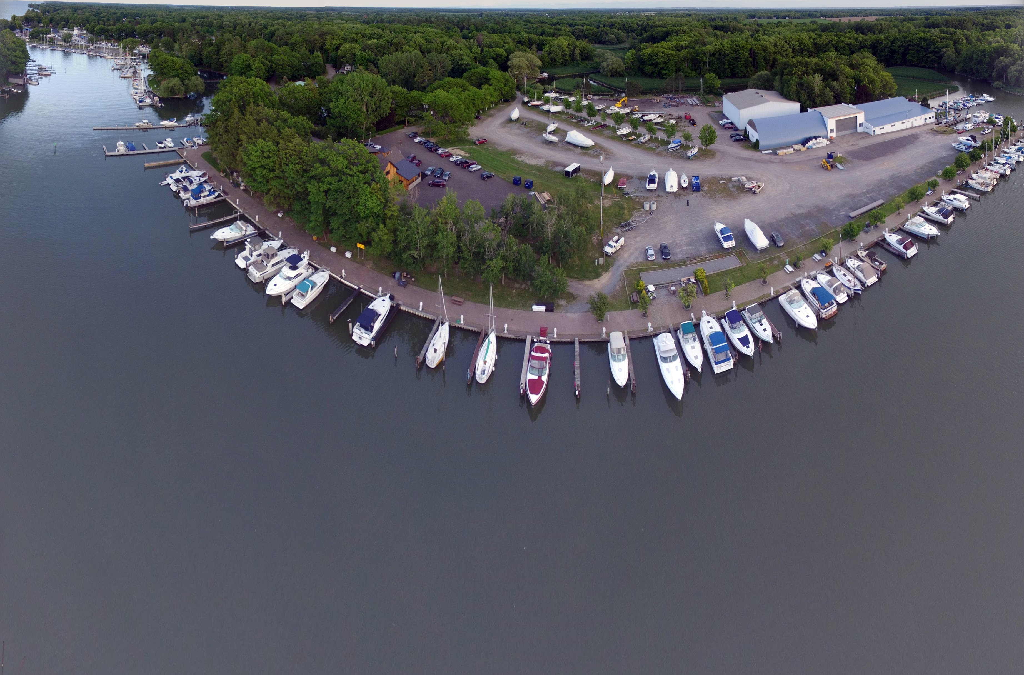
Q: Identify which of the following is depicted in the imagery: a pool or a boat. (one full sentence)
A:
There is a boat in the scene.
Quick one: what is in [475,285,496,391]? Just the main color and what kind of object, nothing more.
white boat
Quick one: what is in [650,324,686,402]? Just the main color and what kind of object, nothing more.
white boat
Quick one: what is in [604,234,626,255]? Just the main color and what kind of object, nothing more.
white truck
